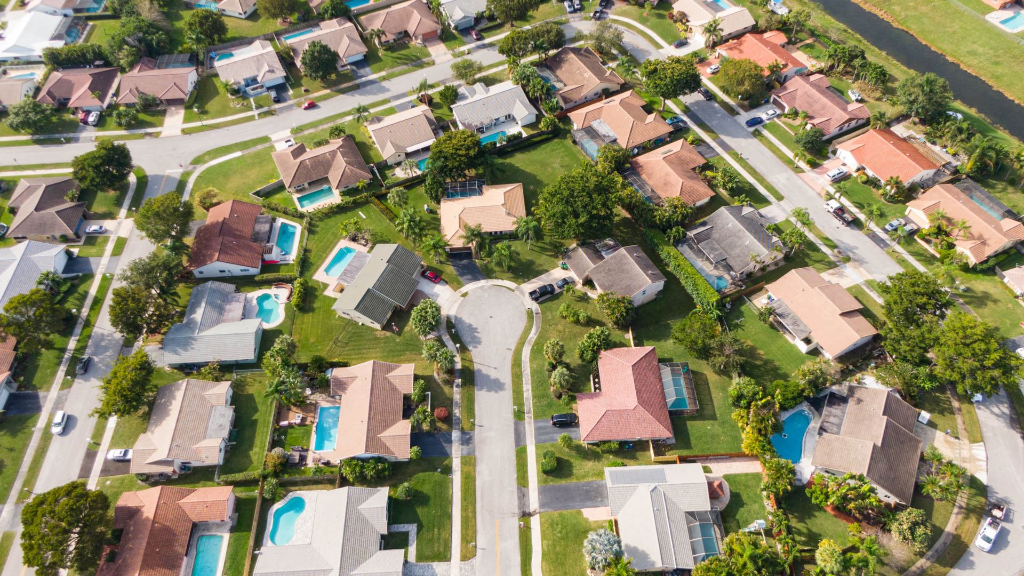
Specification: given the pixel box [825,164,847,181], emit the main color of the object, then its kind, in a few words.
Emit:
white car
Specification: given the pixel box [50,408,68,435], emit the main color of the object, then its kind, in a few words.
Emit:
white car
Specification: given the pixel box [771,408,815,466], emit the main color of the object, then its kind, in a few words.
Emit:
blue swimming pool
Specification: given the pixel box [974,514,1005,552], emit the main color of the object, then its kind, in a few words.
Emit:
white truck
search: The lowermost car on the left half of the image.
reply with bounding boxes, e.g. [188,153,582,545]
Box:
[104,448,130,462]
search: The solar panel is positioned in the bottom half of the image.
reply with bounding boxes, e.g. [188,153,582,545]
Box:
[609,468,667,484]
